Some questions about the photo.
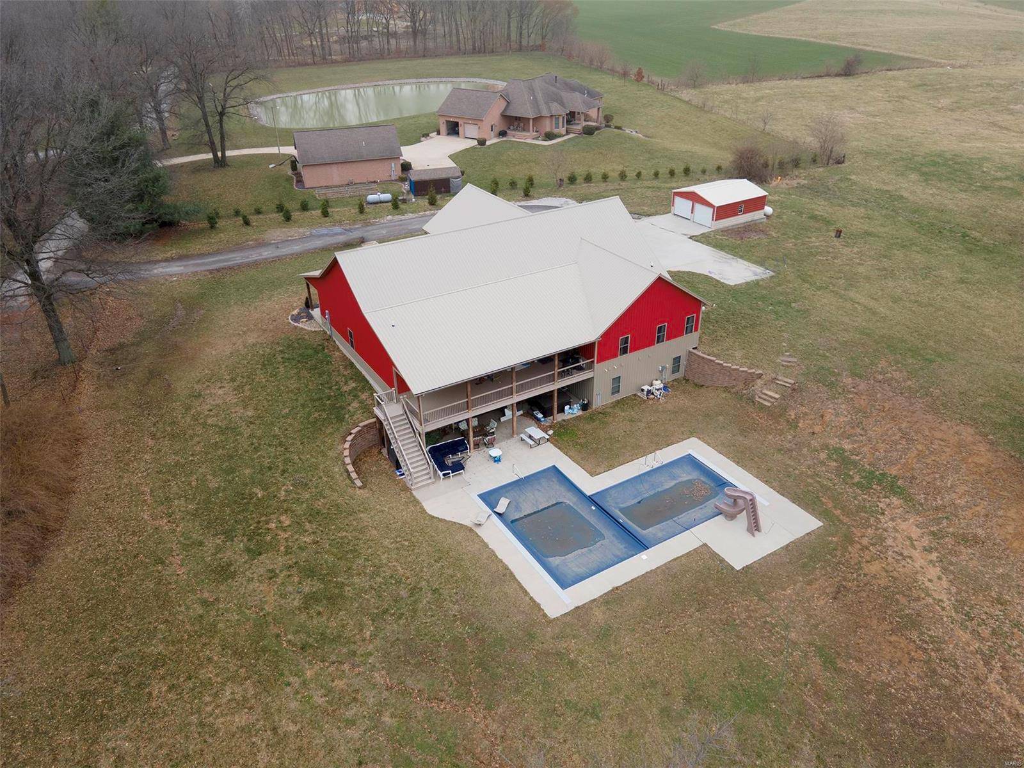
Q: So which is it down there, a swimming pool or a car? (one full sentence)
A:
The image shows a swimming pool.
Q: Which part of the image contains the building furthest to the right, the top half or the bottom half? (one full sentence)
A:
Seen from above, the building furthest to the right lies in the top half of the view.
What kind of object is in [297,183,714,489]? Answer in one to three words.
house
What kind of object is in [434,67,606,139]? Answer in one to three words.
house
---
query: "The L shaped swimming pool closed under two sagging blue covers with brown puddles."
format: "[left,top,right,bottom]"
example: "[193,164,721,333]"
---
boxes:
[470,446,766,603]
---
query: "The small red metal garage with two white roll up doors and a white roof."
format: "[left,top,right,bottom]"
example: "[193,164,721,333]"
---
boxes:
[670,178,771,229]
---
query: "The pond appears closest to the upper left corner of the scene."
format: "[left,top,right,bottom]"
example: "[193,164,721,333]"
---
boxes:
[249,79,510,127]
